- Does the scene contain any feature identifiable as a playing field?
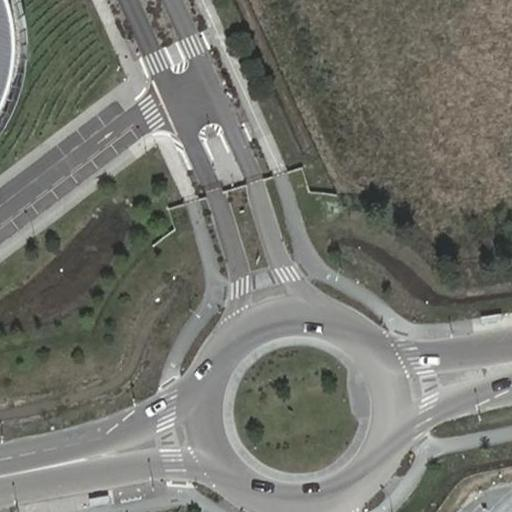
No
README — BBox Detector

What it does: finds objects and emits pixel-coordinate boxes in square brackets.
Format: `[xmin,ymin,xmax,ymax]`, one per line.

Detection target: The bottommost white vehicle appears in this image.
[146,400,166,415]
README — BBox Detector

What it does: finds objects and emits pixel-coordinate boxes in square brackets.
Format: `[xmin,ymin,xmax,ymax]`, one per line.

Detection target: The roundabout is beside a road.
[150,279,448,512]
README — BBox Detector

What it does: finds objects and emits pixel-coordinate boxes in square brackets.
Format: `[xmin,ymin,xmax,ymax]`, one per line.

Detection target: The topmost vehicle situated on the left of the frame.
[196,360,212,378]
